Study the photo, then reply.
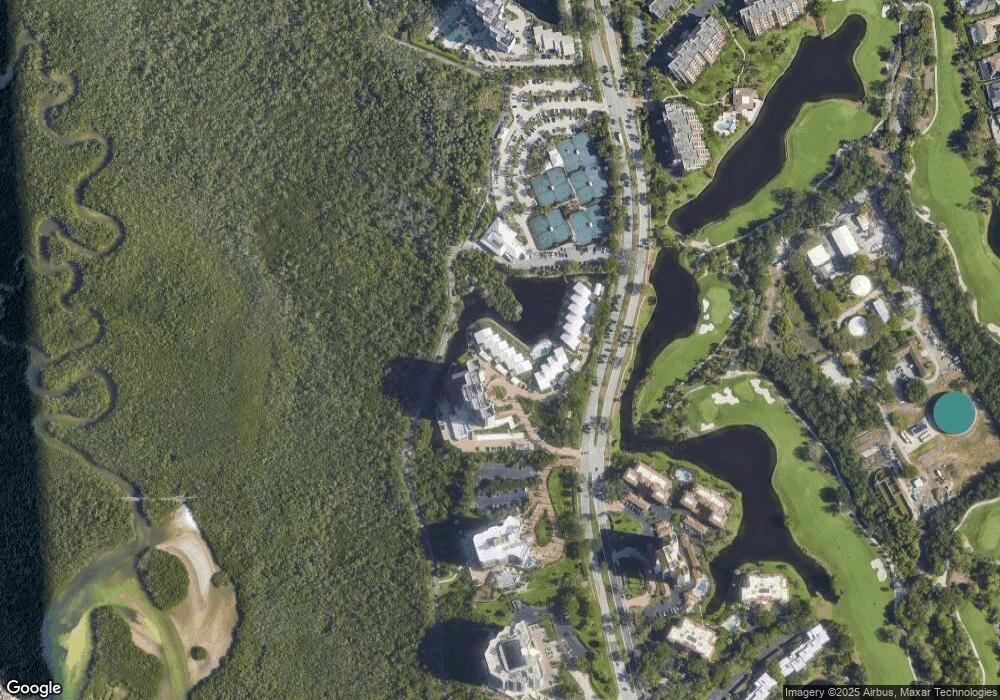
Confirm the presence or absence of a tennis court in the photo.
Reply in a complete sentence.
Yes, a tennis court appears in the view.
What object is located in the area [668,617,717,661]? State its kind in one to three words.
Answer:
building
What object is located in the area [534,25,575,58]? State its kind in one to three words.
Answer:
building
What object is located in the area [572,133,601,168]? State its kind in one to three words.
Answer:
tennis court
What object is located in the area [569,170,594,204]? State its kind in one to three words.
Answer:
tennis court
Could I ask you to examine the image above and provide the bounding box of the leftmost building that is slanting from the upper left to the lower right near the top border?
[475,0,516,53]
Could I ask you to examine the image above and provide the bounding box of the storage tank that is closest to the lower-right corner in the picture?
[934,391,976,434]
